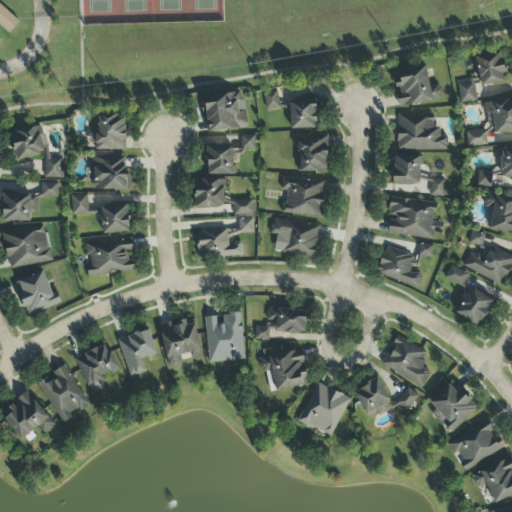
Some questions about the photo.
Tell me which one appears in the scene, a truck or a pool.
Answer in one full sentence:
There is a pool in the scene.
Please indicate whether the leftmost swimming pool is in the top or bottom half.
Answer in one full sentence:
The top half of the photo is where the leftmost swimming pool is.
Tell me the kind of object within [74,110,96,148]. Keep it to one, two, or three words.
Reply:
swimming pool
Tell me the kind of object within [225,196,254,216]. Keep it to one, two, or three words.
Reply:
building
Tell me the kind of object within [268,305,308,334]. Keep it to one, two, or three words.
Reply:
house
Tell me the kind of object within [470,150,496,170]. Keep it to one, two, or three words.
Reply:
swimming pool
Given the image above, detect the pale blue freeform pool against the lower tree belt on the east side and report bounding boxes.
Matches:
[472,196,488,225]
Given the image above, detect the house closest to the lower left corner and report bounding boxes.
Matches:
[6,390,56,438]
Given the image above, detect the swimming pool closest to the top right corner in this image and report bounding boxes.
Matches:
[463,104,485,126]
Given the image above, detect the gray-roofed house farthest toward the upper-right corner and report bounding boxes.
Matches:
[476,48,510,84]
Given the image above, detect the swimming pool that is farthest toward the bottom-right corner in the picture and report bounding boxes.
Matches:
[375,410,395,428]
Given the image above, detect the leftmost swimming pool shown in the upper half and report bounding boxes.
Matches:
[44,124,65,148]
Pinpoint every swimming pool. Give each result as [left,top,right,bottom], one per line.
[74,110,96,148]
[470,150,496,170]
[44,124,65,148]
[375,410,395,428]
[436,114,456,143]
[472,196,488,225]
[463,104,485,126]
[74,156,92,181]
